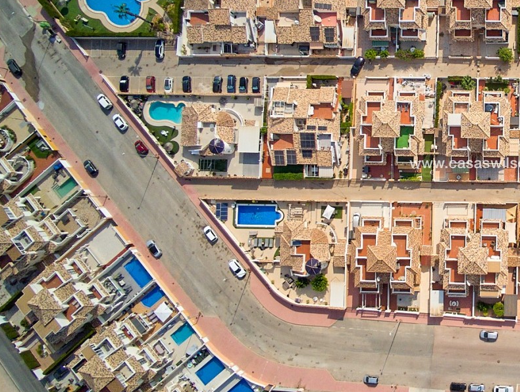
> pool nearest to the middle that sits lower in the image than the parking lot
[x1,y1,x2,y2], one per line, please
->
[236,204,284,227]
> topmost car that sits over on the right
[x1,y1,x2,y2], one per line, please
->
[351,57,365,76]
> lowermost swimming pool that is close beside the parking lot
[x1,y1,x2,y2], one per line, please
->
[148,101,186,124]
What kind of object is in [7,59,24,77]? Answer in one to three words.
car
